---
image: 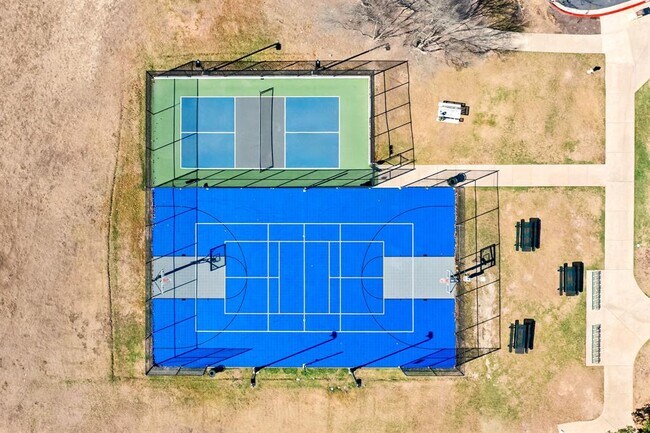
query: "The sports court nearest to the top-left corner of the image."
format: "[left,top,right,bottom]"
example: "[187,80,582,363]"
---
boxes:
[152,76,372,187]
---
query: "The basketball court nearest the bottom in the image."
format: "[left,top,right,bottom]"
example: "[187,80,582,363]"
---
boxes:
[152,188,458,368]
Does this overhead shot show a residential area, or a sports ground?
sports ground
